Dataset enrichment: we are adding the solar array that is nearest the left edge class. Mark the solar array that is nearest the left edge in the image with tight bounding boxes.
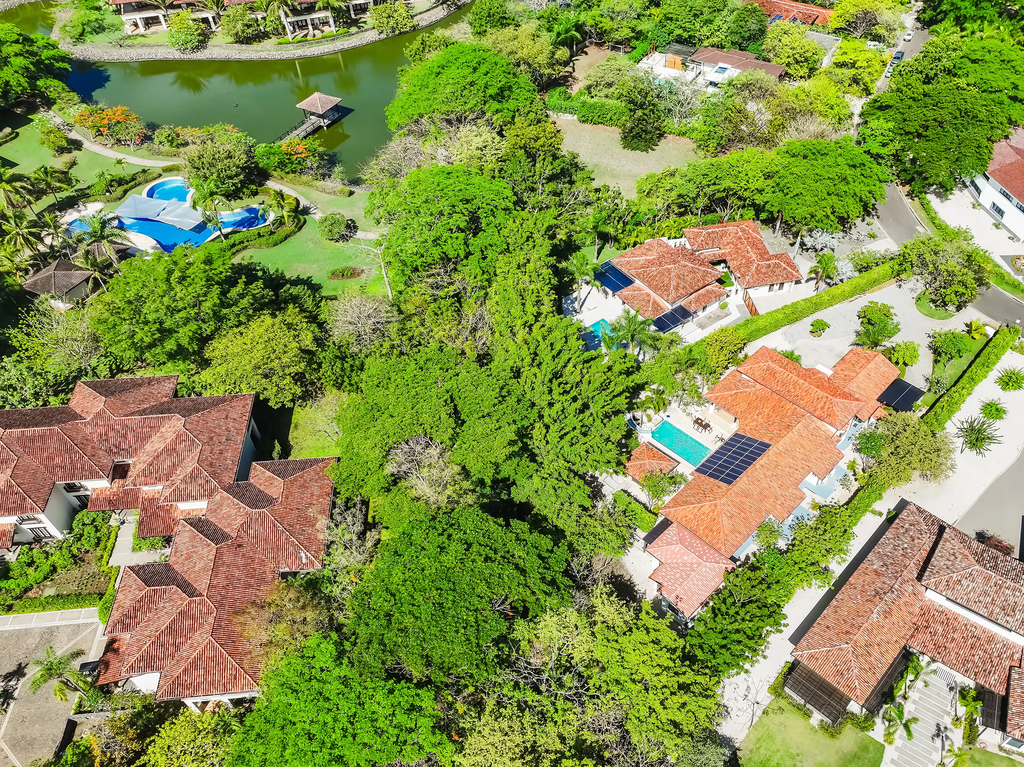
[695,432,771,485]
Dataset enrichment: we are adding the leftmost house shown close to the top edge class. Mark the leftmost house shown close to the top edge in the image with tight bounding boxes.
[115,0,171,34]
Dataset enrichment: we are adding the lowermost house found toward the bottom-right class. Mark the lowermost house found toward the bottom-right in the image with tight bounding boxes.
[775,500,1024,763]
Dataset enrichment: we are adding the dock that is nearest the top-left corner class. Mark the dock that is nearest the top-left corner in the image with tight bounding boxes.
[260,111,322,145]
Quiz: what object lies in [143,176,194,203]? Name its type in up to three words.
swimming pool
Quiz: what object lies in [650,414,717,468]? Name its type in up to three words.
swimming pool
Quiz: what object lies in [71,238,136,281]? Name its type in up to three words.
building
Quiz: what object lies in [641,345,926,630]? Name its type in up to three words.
house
